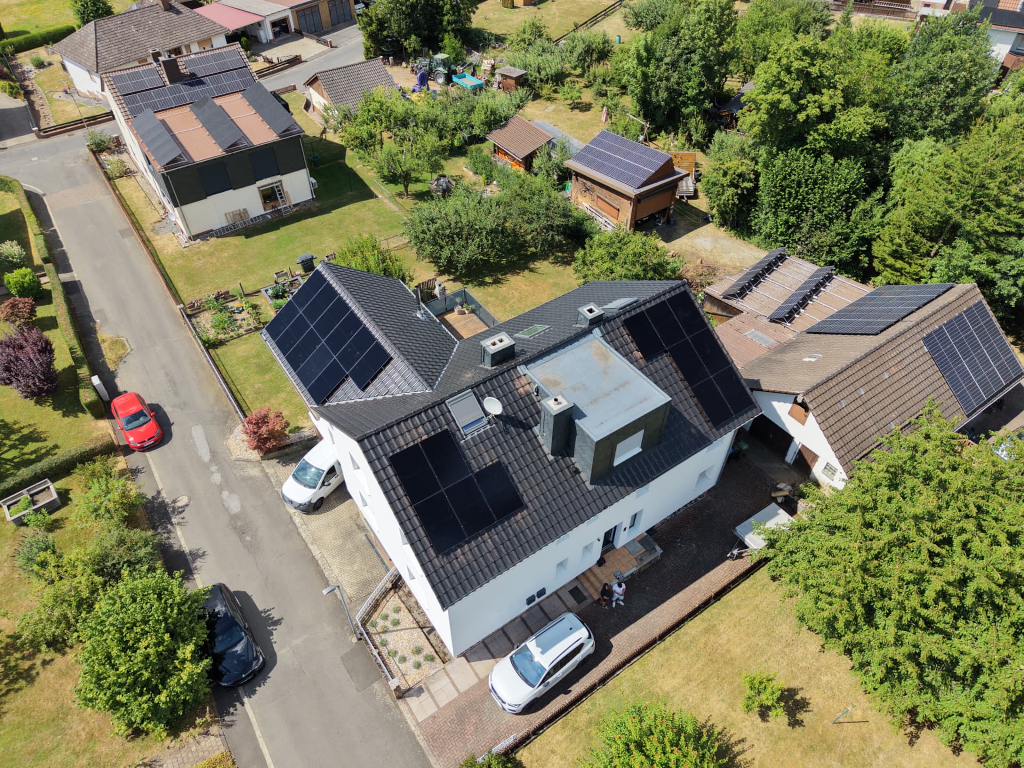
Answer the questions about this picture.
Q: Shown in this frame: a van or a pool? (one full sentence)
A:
Of the two, only a van appears.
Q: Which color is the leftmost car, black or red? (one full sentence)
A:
The leftmost car is red.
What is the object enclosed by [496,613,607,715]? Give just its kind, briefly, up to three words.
car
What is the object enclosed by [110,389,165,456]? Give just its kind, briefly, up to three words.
car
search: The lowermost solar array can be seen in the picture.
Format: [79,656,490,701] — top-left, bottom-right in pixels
[389,430,525,555]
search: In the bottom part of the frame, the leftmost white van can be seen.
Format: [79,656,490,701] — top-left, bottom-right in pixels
[275,417,341,510]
